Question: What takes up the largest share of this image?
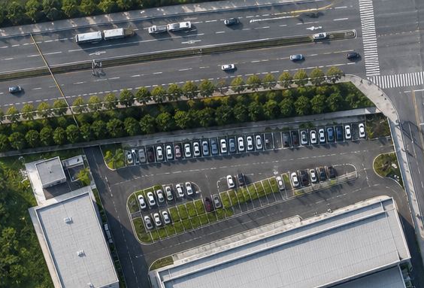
paved ground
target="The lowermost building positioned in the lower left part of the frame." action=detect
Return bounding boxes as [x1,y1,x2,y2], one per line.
[28,187,122,288]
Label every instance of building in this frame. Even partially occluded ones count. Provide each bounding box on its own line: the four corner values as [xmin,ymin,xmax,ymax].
[153,198,409,288]
[35,157,67,192]
[62,155,83,173]
[28,187,122,288]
